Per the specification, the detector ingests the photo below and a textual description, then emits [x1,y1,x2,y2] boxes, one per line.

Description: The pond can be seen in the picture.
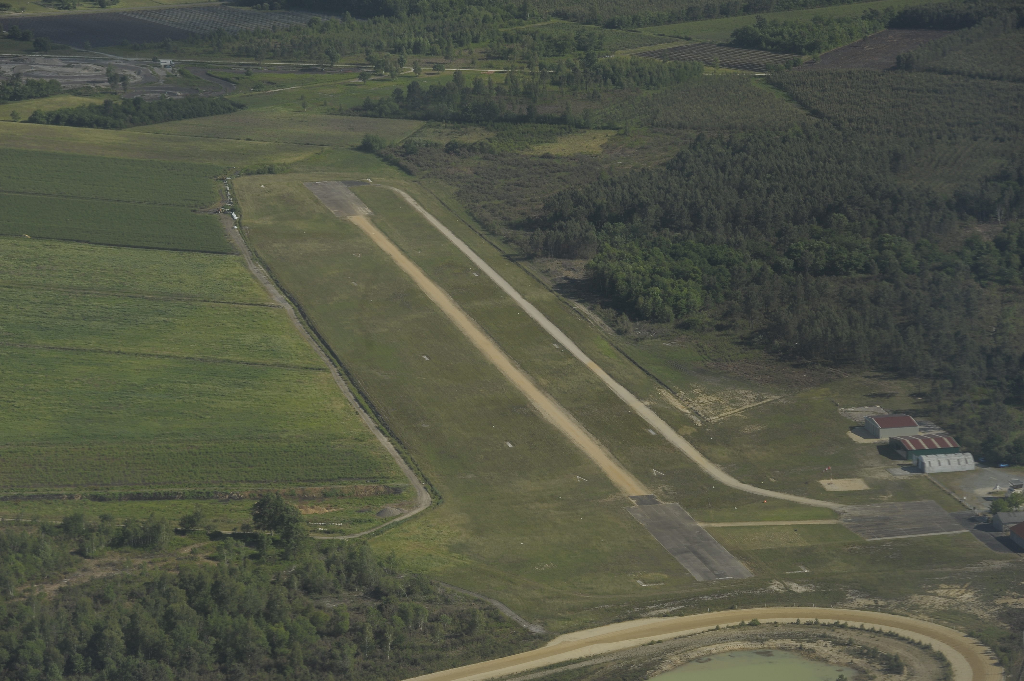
[648,649,857,681]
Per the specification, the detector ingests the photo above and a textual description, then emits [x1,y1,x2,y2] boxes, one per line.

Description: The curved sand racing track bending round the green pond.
[403,607,1005,681]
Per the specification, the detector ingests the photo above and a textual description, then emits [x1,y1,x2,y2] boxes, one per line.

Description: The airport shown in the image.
[261,178,1024,586]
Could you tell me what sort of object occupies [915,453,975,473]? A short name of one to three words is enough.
shed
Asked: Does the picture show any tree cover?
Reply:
Yes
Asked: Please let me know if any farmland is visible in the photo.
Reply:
Yes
